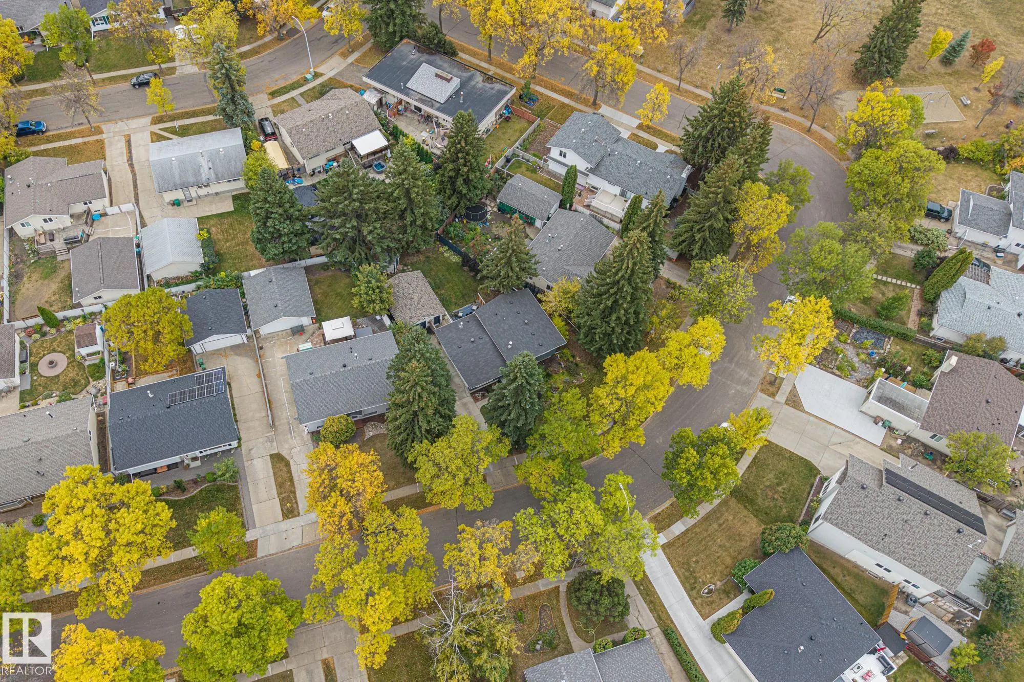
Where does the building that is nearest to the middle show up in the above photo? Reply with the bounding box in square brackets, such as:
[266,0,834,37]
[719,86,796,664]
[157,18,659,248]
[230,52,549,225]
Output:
[434,288,567,397]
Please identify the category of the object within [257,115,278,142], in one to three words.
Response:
truck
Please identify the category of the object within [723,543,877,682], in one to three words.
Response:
house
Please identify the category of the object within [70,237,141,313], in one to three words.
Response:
building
